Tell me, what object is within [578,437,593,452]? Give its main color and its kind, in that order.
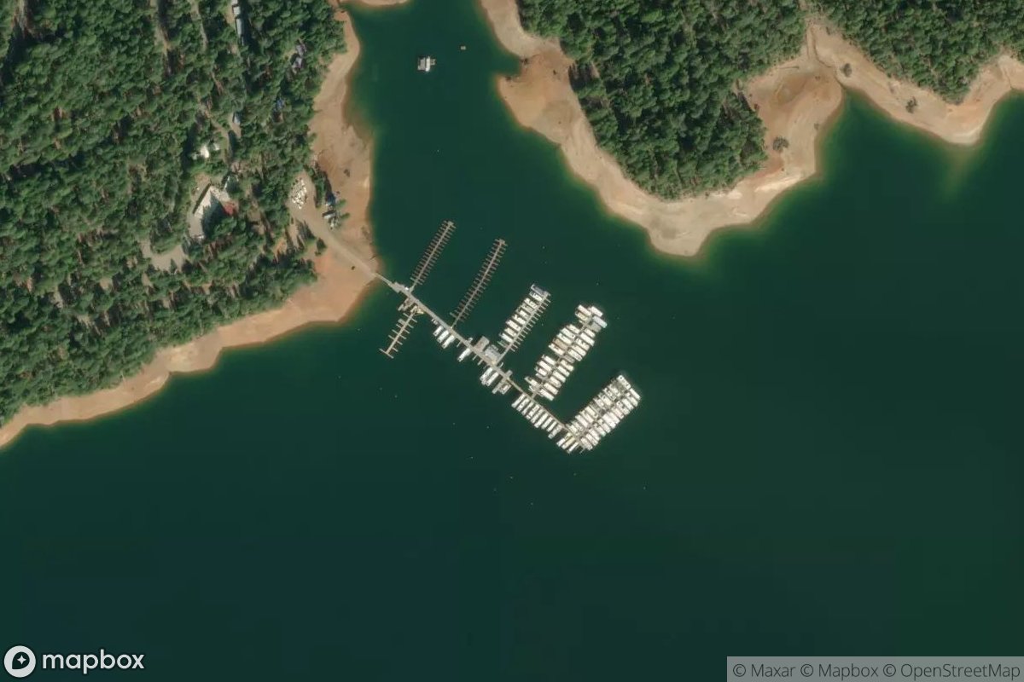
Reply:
white boat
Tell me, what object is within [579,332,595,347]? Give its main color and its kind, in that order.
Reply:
white boat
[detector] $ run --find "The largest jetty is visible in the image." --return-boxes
[388,282,585,453]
